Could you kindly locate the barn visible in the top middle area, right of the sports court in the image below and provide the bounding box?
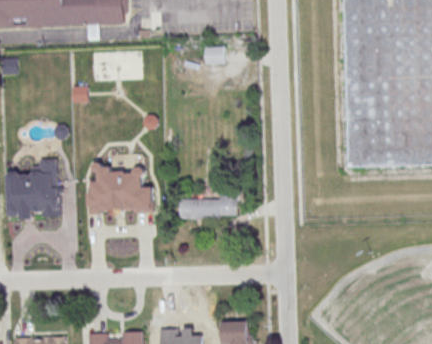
[204,47,228,66]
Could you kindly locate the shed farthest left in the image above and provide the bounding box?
[1,58,20,76]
